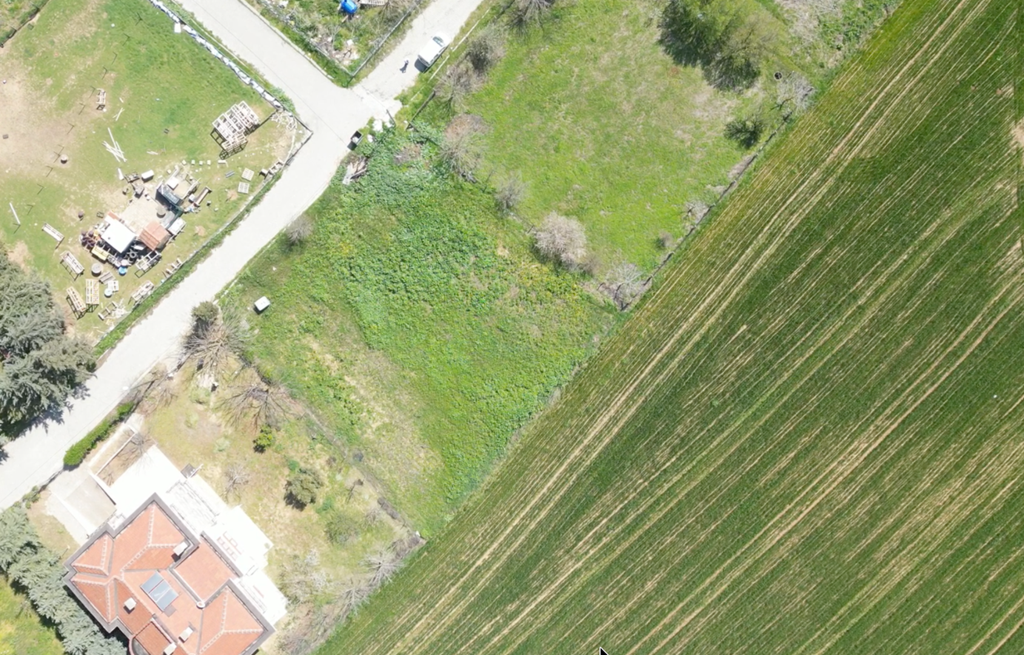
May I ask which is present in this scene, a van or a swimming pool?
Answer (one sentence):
This aerial view contains a van.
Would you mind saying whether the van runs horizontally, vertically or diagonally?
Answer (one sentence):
The van has been laid out diagonally relative to the frame.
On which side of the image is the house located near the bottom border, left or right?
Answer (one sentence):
The house located near the bottom border sits on the left side.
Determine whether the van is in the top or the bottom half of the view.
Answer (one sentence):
You can find the van in the top half.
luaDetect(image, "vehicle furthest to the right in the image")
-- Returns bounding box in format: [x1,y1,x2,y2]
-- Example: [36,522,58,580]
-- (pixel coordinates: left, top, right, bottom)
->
[418,33,453,68]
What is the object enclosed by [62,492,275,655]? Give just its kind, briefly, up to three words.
house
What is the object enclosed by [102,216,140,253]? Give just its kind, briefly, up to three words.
shed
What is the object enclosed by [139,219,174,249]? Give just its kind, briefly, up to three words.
shed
